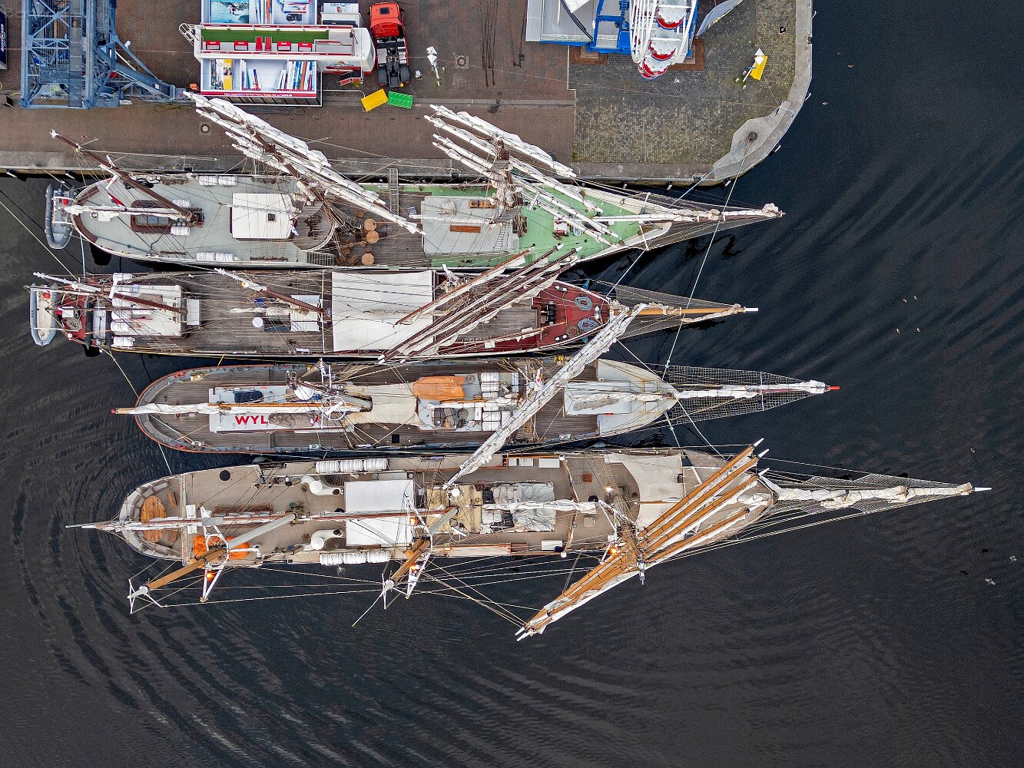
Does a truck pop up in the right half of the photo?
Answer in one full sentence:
No, no truck is visible in the right half of the photo.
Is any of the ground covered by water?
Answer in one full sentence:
Yes, water shows up in the scene.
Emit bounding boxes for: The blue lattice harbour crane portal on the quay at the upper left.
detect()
[16,0,191,114]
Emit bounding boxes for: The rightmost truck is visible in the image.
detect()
[367,3,410,88]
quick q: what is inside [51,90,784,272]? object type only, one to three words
ship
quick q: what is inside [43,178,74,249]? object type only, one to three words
boat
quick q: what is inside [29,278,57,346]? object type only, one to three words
boat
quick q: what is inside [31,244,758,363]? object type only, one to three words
ship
